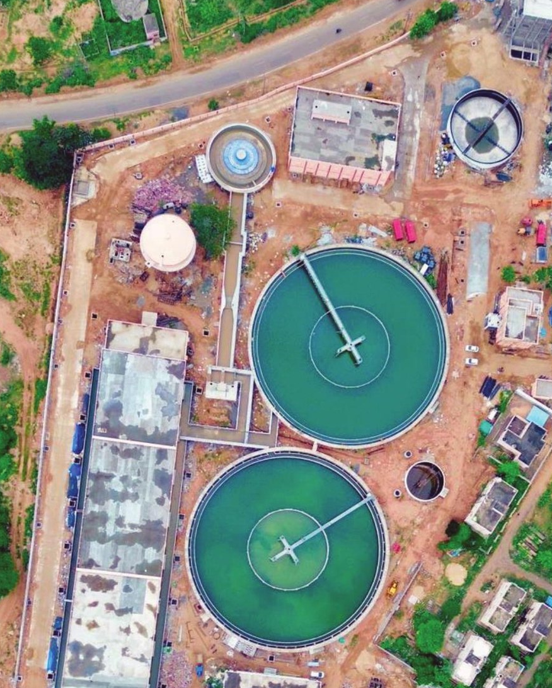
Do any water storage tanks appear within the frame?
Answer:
Yes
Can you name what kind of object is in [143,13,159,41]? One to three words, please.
building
